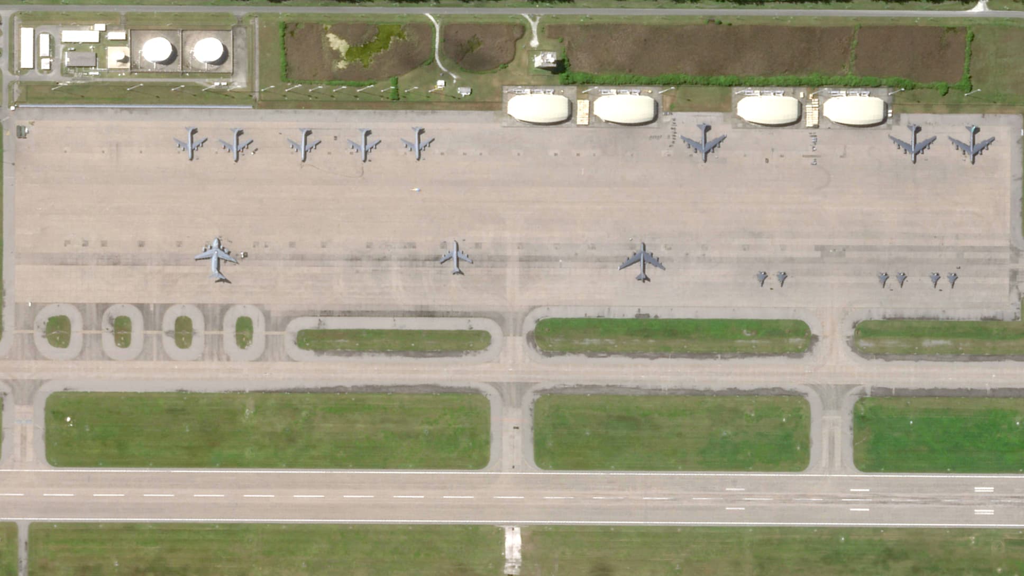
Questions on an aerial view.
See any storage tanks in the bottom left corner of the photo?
No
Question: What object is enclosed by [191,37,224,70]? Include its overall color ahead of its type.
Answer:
white storage tank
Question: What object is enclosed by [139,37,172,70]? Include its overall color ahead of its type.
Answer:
white storage tank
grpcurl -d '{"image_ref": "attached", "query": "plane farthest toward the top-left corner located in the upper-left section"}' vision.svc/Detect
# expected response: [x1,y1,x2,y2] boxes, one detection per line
[174,127,208,161]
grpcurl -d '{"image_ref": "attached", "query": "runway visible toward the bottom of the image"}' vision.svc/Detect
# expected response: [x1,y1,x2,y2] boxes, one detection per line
[0,471,1024,525]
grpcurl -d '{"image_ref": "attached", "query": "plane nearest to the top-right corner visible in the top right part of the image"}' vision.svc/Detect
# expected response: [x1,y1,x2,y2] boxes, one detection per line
[950,126,996,165]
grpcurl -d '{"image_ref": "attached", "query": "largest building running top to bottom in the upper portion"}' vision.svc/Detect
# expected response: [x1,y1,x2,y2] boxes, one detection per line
[21,27,34,68]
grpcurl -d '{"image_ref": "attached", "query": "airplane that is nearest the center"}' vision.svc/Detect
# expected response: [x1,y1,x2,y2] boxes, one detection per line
[438,239,472,271]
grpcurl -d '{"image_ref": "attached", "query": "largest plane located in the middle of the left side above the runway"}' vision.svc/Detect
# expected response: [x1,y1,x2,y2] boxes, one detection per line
[194,236,237,278]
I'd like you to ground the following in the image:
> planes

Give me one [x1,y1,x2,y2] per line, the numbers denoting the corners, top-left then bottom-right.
[438,239,472,271]
[174,127,208,161]
[891,125,937,164]
[896,272,907,288]
[879,272,889,287]
[194,236,237,278]
[947,272,958,288]
[287,129,321,162]
[347,129,381,162]
[950,126,996,165]
[219,129,253,163]
[756,271,767,286]
[401,127,435,160]
[930,272,940,287]
[682,124,728,163]
[777,271,787,286]
[619,241,665,280]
